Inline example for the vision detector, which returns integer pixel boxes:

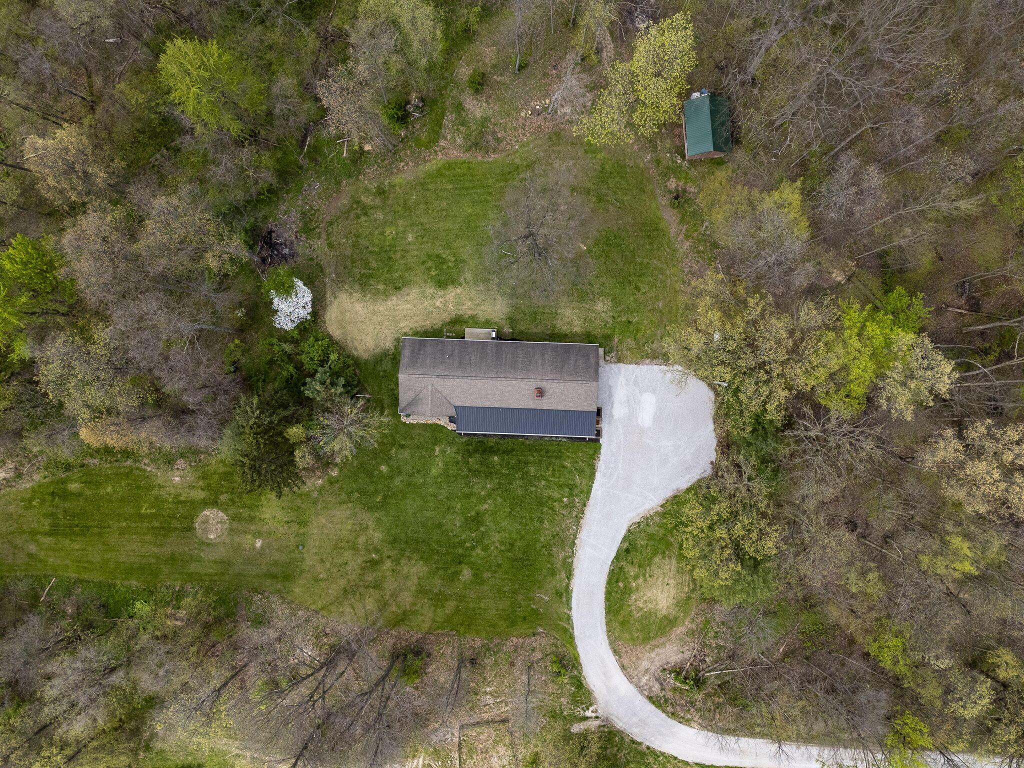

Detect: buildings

[398,328,599,442]
[679,94,731,163]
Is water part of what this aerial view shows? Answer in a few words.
No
